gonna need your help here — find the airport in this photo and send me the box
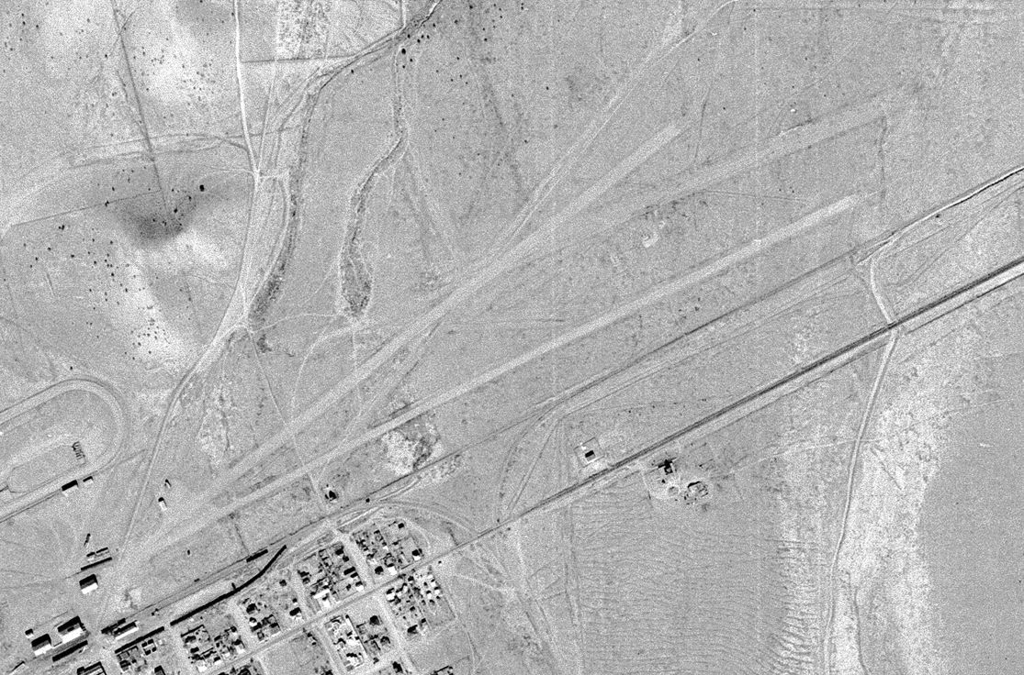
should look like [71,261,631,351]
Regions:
[101,79,925,575]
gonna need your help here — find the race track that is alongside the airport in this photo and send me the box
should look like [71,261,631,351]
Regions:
[0,376,133,521]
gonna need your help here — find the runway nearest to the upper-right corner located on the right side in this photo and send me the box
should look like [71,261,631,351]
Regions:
[511,79,925,269]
